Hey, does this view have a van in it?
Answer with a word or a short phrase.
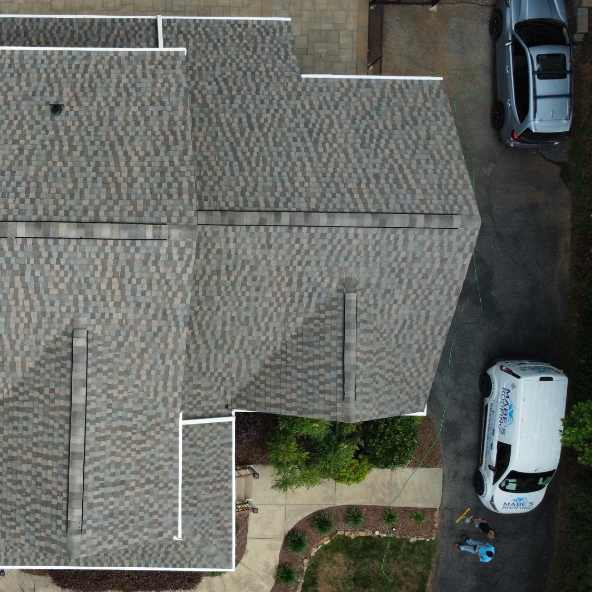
Yes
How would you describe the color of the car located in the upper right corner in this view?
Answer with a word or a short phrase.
black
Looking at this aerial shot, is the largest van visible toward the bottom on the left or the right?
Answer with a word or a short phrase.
right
